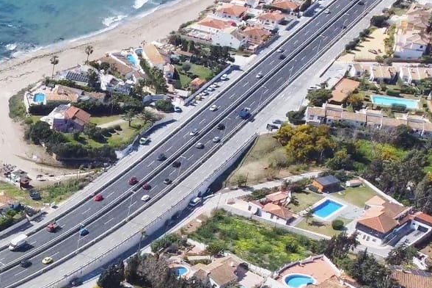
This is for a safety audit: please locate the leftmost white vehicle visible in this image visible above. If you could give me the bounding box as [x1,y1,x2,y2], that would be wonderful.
[9,232,28,248]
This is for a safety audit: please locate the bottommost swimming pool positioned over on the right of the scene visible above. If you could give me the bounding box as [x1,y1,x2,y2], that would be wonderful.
[282,272,315,288]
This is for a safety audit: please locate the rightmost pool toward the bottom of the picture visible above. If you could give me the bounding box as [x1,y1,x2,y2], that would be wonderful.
[309,197,347,220]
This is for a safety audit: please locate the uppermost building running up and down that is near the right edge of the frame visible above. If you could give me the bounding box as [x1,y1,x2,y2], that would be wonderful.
[394,1,432,71]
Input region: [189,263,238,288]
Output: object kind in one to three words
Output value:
house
